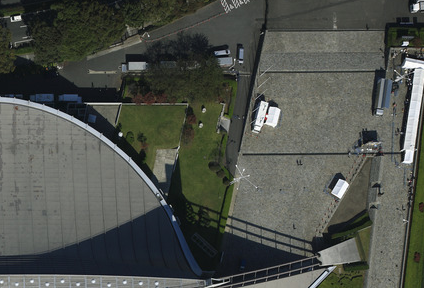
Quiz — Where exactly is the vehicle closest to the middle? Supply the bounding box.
[252,100,269,134]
